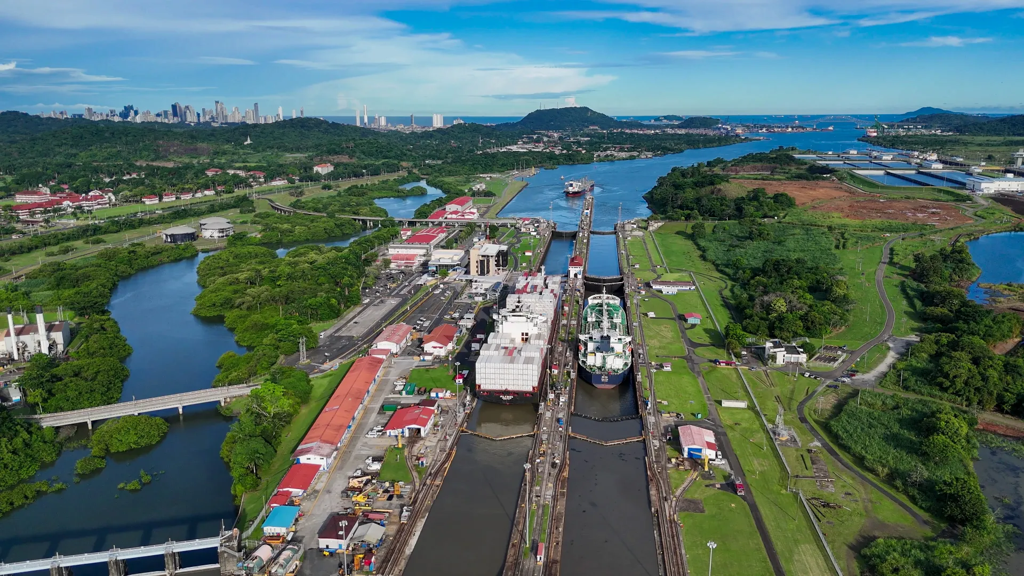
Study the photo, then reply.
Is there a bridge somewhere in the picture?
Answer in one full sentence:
Yes, the photo shows a bridge.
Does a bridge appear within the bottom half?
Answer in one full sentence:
Yes, a bridge shows up within the bottom half.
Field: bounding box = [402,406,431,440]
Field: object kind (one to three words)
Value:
shed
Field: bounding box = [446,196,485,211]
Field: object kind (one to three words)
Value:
building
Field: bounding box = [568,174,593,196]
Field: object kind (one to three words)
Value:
ship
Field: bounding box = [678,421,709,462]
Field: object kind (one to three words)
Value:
building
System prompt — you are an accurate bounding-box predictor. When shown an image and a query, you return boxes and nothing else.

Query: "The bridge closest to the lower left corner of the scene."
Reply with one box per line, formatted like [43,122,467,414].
[0,385,252,430]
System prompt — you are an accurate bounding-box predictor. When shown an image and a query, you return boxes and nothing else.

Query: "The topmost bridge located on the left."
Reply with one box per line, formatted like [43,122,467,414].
[260,198,515,229]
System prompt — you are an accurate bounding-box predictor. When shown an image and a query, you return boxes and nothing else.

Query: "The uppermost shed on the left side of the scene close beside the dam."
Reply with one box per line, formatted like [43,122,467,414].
[288,355,393,470]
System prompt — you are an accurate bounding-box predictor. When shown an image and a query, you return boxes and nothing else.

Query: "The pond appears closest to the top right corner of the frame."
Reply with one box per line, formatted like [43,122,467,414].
[965,231,1024,295]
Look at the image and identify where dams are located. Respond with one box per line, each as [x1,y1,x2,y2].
[0,515,257,576]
